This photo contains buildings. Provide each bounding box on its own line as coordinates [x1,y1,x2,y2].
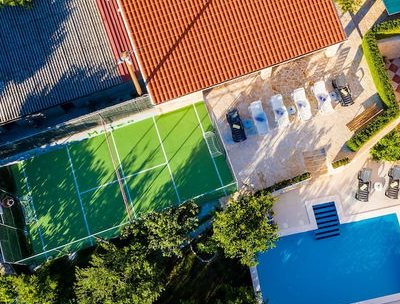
[0,0,129,140]
[116,0,349,113]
